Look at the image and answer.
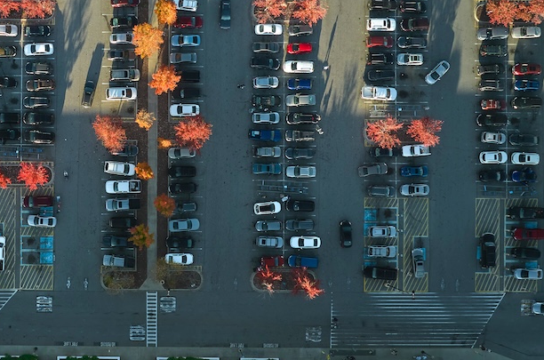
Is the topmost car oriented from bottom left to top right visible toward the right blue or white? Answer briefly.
blue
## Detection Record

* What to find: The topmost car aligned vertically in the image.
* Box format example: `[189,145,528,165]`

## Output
[218,0,231,29]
